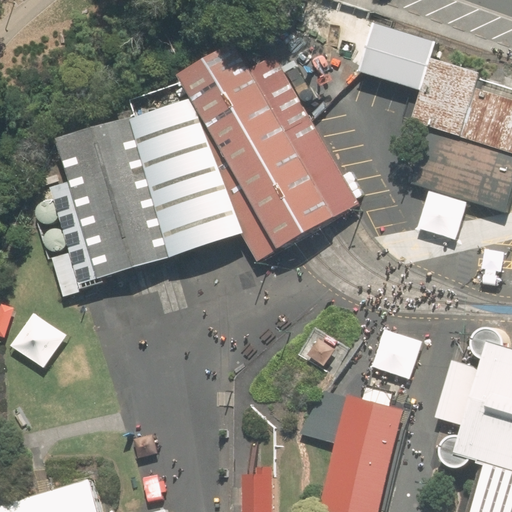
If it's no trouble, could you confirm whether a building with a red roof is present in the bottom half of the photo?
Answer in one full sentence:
Yes, I can see a building with a red roof in the bottom half of the photo.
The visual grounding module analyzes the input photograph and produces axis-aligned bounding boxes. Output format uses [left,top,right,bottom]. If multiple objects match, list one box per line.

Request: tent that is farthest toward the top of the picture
[418,191,468,240]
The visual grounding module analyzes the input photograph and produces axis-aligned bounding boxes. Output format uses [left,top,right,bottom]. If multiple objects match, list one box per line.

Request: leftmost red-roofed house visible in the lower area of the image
[242,467,276,512]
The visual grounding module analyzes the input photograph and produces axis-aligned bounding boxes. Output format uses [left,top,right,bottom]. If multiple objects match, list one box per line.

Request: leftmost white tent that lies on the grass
[11,314,70,367]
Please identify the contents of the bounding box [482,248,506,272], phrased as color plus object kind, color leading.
white tent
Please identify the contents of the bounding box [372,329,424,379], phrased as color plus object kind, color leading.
white tent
